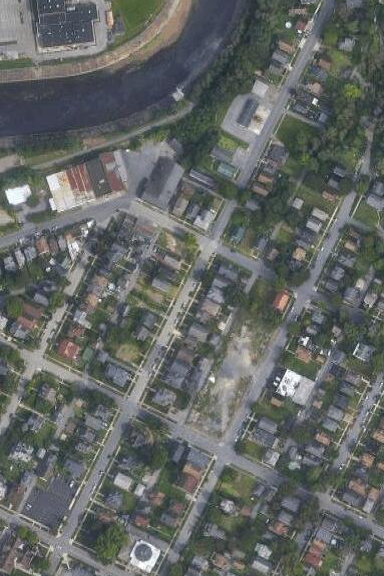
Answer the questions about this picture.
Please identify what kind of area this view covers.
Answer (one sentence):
The area seen from above is a residential area.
